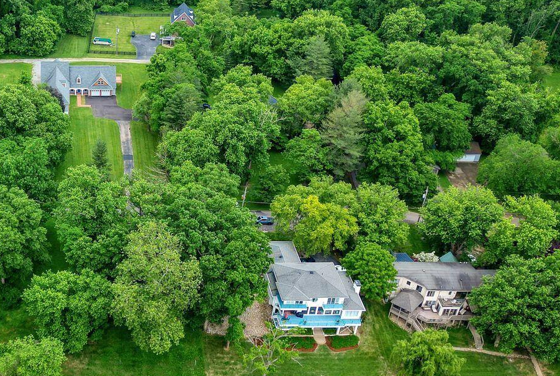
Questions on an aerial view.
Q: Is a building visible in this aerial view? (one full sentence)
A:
Yes, a building is visible in the scene.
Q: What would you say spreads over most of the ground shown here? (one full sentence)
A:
The bulk of the photo consists of trees.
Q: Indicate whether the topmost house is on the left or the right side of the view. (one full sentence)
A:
It is on the left.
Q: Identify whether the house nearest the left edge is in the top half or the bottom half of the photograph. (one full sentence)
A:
It is in the top half that the house nearest the left edge appears.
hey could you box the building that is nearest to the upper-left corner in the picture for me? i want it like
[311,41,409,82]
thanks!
[38,62,123,111]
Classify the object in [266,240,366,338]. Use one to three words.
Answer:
house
